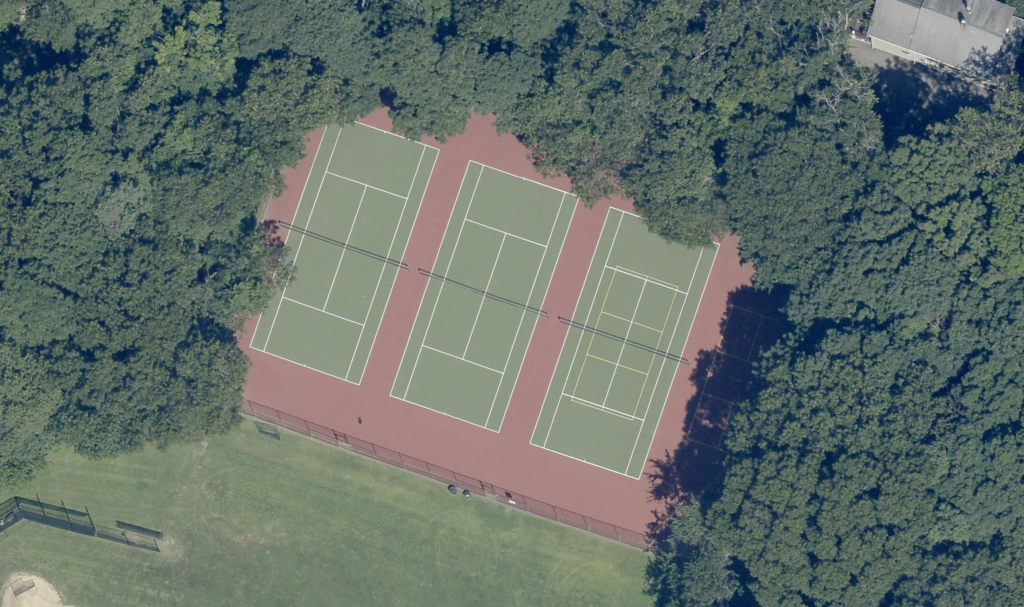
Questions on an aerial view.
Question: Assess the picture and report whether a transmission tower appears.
No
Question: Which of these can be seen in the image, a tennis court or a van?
tennis court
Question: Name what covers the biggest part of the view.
trees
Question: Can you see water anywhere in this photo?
No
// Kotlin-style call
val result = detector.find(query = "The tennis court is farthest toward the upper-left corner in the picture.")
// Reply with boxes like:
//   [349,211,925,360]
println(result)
[250,117,438,385]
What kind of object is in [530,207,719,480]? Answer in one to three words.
tennis court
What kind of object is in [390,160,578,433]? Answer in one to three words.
tennis court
